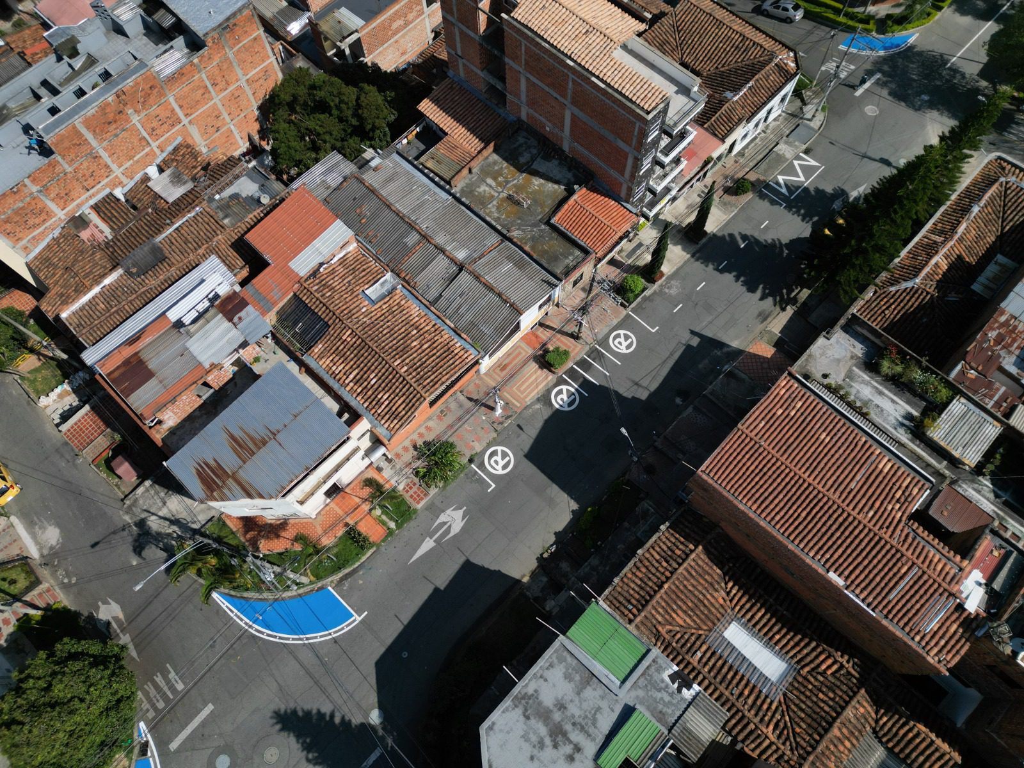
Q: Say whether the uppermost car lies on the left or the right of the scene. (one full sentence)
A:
It is on the right.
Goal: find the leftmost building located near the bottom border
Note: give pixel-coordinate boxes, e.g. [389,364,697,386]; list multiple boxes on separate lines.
[478,583,736,768]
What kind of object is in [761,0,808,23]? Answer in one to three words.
car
